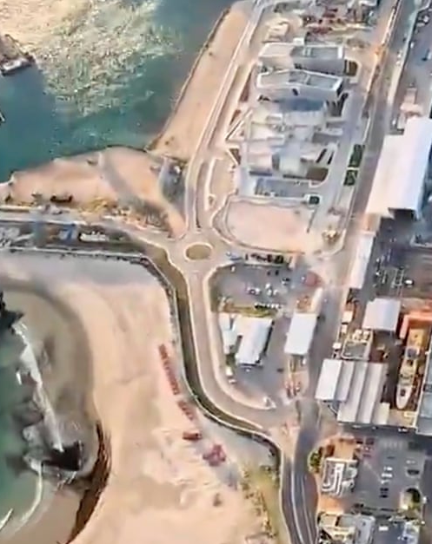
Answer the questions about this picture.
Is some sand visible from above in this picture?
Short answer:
Yes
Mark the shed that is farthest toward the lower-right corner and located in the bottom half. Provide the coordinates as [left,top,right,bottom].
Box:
[402,520,421,544]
